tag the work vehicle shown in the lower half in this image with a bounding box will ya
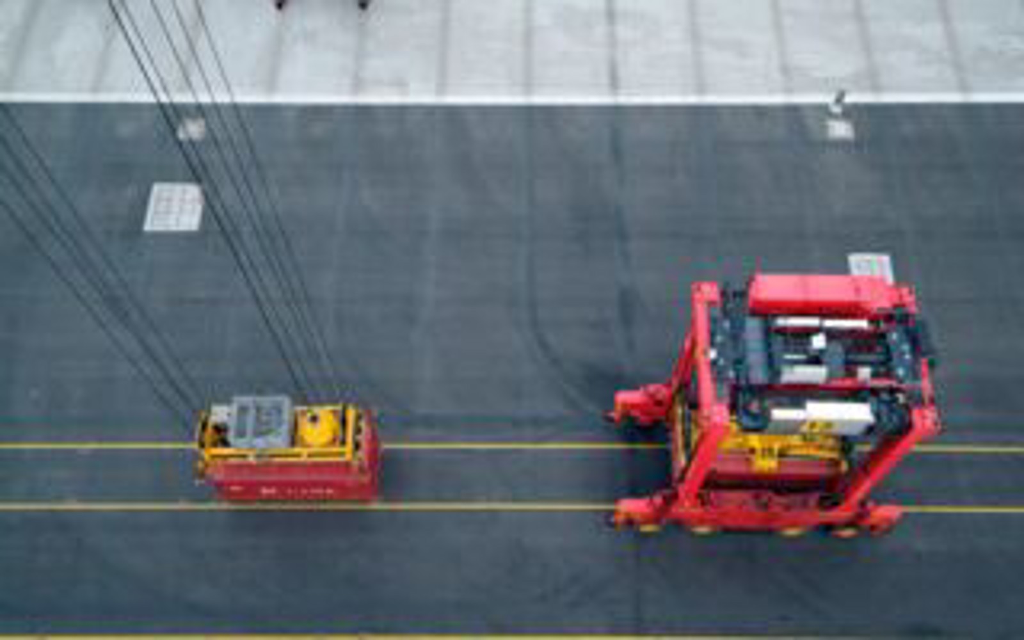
[598,267,952,536]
